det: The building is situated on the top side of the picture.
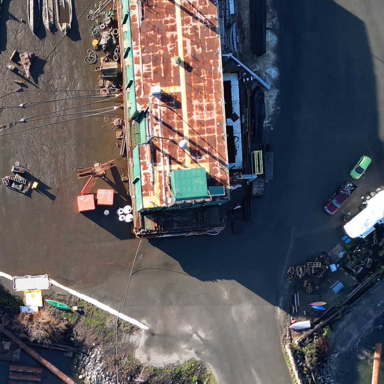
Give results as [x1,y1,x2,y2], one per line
[113,0,259,242]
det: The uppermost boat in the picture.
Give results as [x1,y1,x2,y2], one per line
[0,176,31,195]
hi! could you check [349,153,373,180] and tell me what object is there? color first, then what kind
green car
